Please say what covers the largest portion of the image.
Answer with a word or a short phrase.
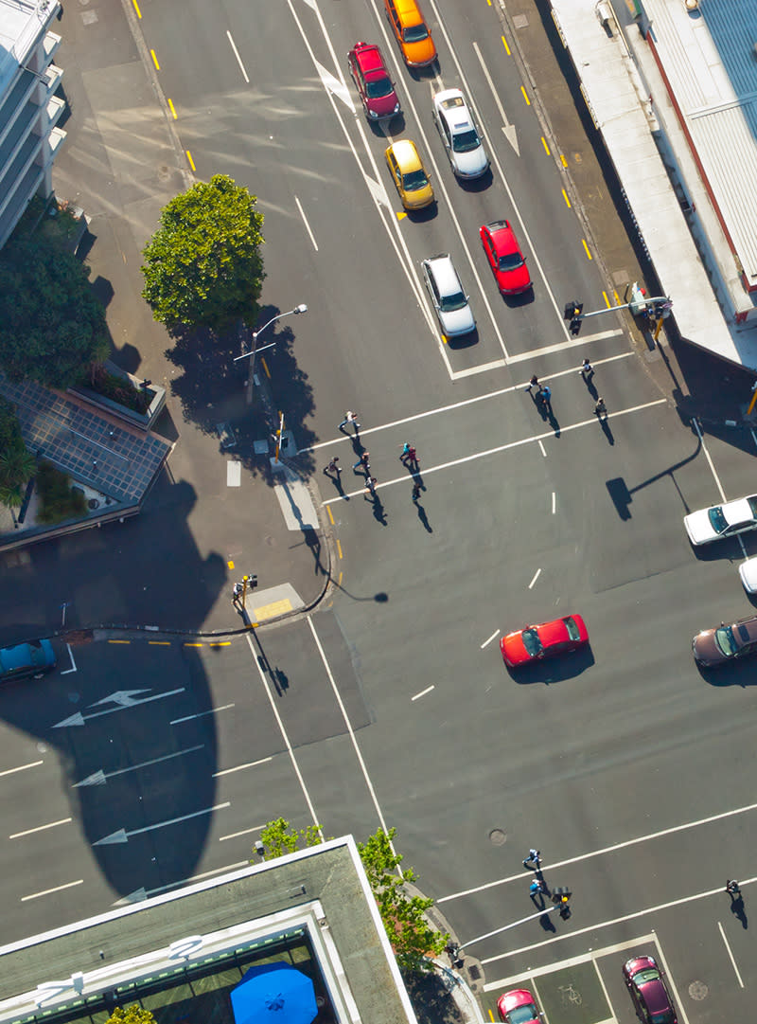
paved ground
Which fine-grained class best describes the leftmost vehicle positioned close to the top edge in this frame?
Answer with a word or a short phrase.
automobile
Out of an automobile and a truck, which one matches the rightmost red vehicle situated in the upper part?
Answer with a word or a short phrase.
automobile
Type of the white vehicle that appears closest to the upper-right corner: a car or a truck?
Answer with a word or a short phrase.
car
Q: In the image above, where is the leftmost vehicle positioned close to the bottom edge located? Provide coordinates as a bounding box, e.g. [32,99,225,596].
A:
[504,987,551,1024]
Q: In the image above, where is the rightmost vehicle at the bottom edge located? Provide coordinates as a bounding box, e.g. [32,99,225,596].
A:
[625,953,683,1024]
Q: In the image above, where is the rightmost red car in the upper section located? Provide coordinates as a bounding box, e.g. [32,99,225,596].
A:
[482,220,531,297]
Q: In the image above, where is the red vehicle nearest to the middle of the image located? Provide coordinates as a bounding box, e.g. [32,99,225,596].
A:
[498,613,588,665]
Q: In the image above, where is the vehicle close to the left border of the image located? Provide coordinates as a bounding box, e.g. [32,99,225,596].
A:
[0,642,57,687]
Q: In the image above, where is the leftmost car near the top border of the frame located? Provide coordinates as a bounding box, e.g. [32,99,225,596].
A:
[351,43,399,123]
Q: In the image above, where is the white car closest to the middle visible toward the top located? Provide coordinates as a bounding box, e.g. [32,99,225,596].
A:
[423,257,474,339]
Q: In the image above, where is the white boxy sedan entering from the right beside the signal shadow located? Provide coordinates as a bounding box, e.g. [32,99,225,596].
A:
[682,490,757,545]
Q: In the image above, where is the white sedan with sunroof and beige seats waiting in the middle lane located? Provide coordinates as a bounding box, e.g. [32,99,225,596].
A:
[434,96,488,181]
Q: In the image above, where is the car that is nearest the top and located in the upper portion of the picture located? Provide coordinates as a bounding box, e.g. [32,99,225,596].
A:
[382,0,436,66]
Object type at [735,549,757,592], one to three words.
car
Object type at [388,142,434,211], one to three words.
car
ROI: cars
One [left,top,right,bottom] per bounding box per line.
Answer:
[434,96,488,181]
[625,953,683,1024]
[482,220,531,297]
[504,987,551,1024]
[498,613,588,665]
[382,0,436,66]
[388,142,434,211]
[0,642,57,687]
[735,549,757,592]
[423,257,474,339]
[682,490,757,545]
[688,608,757,663]
[351,43,399,123]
